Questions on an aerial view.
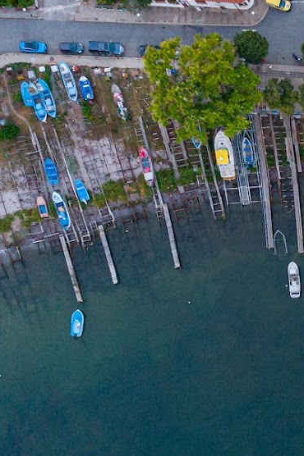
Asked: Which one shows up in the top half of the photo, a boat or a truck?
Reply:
boat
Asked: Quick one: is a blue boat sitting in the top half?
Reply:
Yes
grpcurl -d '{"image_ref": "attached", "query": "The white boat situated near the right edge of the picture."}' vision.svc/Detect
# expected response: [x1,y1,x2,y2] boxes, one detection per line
[286,261,299,299]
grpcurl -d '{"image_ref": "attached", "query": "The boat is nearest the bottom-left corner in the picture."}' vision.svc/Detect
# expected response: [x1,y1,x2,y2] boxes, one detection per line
[70,309,84,341]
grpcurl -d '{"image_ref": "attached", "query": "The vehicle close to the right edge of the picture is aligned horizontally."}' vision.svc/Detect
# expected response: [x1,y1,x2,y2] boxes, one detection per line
[264,0,293,14]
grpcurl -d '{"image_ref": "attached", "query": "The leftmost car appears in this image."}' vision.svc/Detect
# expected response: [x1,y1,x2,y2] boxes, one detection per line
[20,39,50,55]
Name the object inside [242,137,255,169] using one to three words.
boat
